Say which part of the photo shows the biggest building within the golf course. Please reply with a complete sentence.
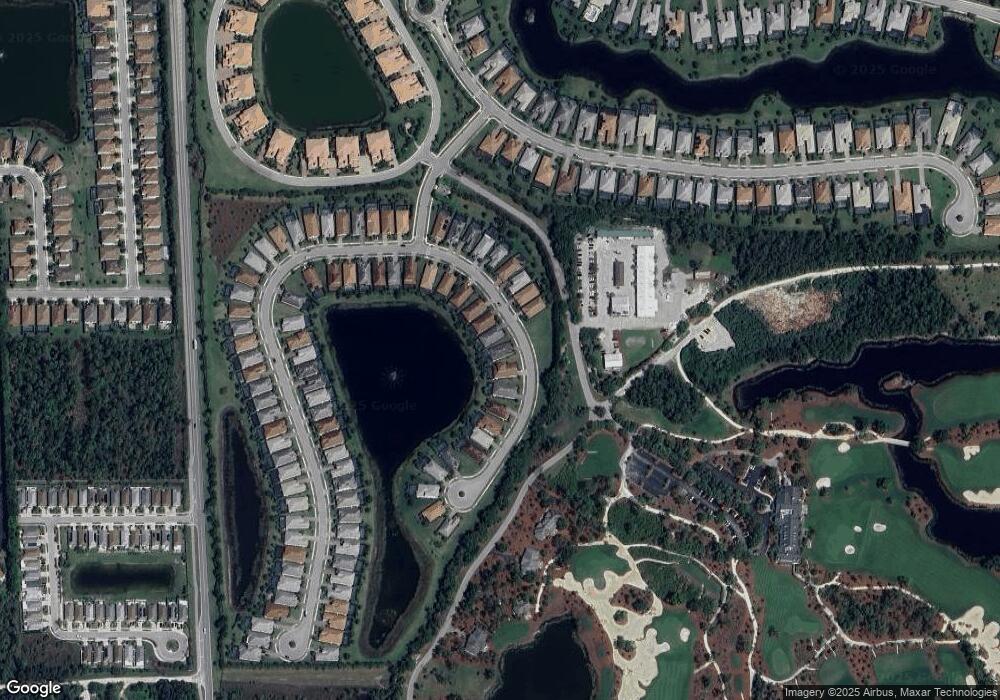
Look in the bottom right portion of the view to spot the biggest building within the golf course.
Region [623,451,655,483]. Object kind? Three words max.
tennis court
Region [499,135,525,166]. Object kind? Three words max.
house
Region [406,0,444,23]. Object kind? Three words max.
roundabout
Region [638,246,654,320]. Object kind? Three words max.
building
